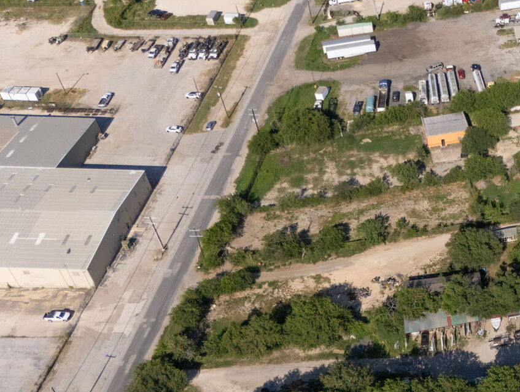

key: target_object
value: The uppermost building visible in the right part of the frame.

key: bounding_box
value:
[421,110,468,146]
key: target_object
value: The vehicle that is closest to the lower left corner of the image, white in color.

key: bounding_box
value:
[40,311,75,324]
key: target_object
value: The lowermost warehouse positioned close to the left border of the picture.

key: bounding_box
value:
[0,166,151,287]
